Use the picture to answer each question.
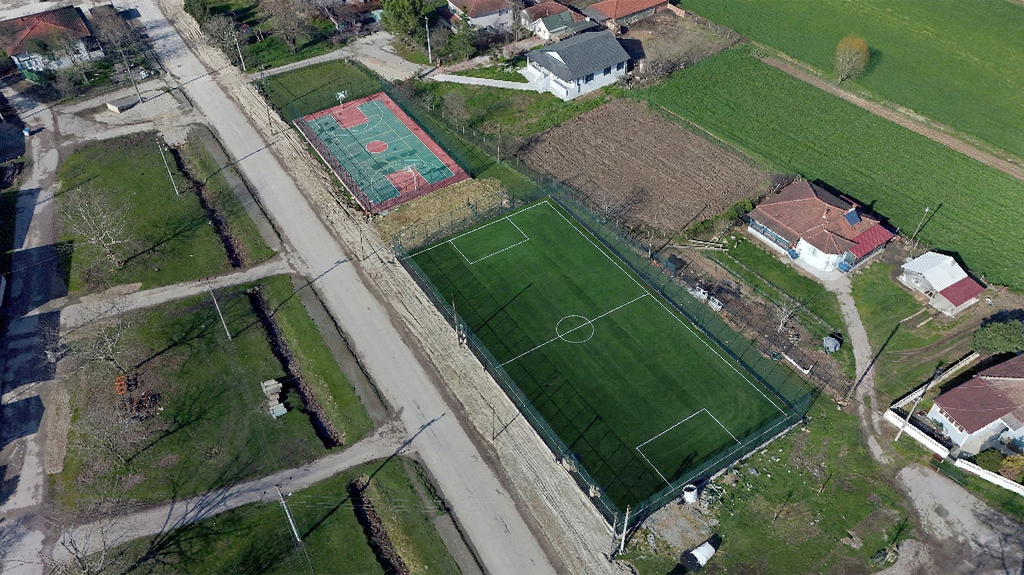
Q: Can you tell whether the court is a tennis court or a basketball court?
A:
basketball court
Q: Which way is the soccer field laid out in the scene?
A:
diagonally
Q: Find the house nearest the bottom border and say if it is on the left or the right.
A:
right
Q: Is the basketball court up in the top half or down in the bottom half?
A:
top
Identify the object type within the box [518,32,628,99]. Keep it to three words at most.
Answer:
house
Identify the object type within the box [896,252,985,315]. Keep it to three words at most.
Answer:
shed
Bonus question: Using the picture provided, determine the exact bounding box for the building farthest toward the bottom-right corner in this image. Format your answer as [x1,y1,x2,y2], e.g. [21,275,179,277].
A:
[927,335,1024,460]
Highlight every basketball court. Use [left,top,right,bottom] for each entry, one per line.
[292,91,471,214]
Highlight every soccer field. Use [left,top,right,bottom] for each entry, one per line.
[397,198,799,533]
